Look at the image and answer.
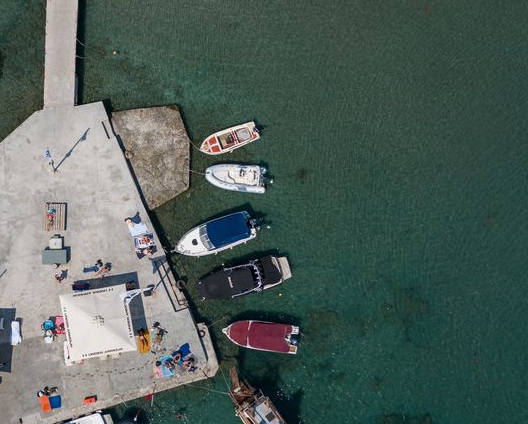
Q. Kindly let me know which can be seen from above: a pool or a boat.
boat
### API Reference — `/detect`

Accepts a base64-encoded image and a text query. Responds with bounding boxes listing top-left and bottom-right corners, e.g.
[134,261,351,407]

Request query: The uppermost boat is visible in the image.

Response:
[200,122,264,154]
